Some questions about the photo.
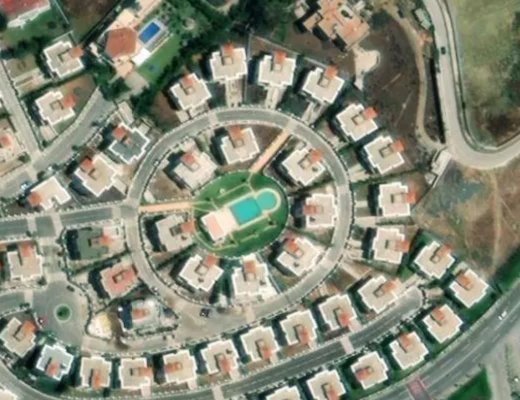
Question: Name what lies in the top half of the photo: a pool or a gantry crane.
pool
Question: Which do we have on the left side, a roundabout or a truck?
roundabout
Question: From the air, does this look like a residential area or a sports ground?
residential area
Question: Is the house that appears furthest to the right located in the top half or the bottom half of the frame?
bottom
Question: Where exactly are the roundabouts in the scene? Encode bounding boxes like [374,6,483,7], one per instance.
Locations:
[32,277,88,351]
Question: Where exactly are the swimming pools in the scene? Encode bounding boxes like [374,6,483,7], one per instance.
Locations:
[136,17,165,48]
[228,187,281,230]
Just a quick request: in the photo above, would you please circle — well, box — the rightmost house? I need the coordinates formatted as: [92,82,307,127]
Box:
[449,266,495,312]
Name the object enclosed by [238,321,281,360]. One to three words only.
house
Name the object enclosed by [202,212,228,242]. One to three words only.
building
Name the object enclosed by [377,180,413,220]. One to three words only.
house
